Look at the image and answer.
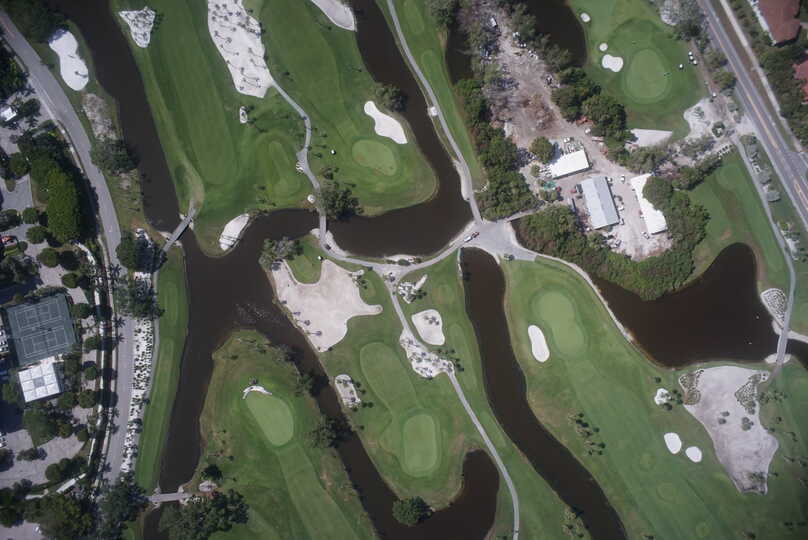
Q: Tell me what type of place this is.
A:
golf course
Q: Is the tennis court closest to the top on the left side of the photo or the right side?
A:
left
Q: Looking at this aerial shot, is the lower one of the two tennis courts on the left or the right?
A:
left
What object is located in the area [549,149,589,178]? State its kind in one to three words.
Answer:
building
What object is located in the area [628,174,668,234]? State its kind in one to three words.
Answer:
shed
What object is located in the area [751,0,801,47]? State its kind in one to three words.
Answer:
house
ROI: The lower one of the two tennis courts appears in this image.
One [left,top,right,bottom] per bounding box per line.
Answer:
[13,321,77,363]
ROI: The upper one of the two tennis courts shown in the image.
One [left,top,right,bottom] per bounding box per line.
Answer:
[6,294,70,336]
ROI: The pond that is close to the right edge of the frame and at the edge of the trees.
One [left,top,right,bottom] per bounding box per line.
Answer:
[513,231,808,370]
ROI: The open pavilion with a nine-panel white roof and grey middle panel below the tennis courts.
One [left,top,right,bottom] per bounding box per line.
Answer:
[19,359,66,402]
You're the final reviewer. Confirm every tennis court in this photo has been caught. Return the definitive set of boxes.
[13,321,77,363]
[6,294,70,336]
